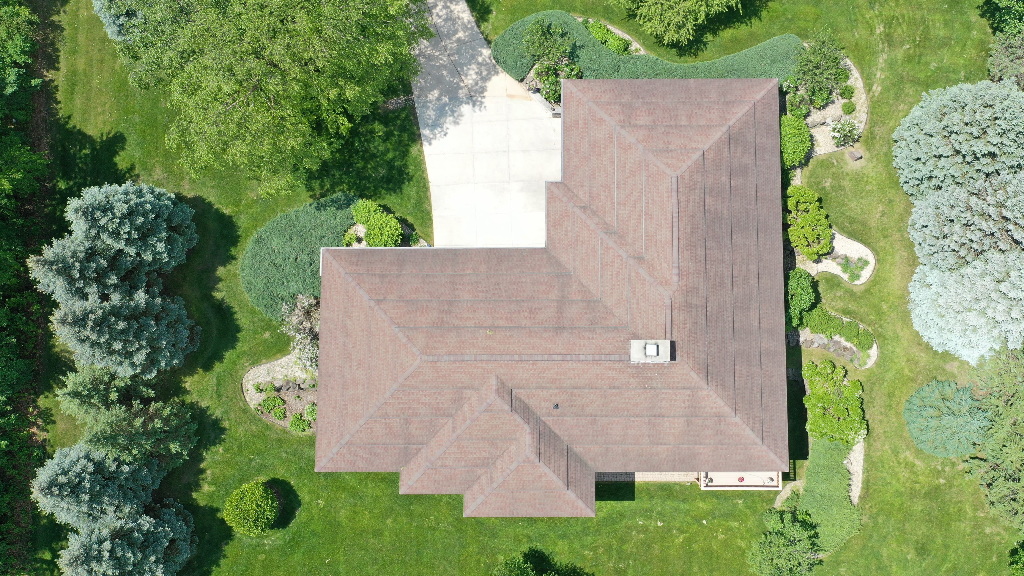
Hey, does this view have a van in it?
No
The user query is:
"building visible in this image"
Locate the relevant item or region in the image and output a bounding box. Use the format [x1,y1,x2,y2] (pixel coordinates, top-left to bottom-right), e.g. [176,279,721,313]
[315,77,790,518]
